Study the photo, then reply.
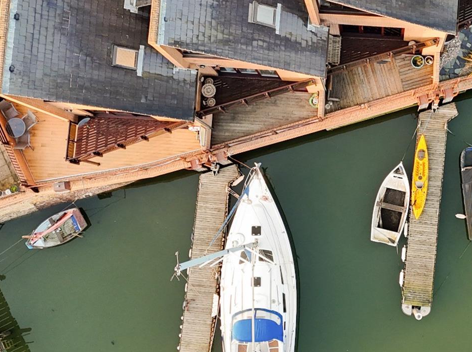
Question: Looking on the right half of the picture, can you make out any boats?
Yes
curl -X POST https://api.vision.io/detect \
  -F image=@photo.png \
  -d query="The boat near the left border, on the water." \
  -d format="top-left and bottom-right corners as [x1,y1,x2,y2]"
[23,209,91,252]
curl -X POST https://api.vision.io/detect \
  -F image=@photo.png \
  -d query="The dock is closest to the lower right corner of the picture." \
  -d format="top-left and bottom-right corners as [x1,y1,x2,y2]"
[400,103,458,317]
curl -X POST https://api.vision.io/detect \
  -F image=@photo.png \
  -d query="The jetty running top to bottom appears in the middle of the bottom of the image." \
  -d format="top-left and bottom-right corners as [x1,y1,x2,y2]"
[178,164,241,352]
